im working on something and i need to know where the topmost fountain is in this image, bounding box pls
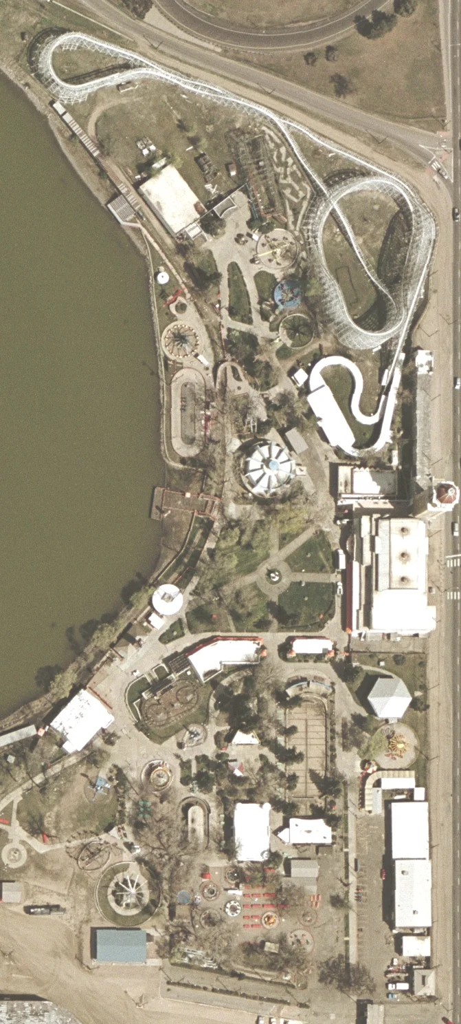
[267,568,284,585]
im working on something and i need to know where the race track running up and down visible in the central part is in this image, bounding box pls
[171,368,207,457]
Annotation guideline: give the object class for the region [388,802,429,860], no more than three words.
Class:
building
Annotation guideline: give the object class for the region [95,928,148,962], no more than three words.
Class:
shed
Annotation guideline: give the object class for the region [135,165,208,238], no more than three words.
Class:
building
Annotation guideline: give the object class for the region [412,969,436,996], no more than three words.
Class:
house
